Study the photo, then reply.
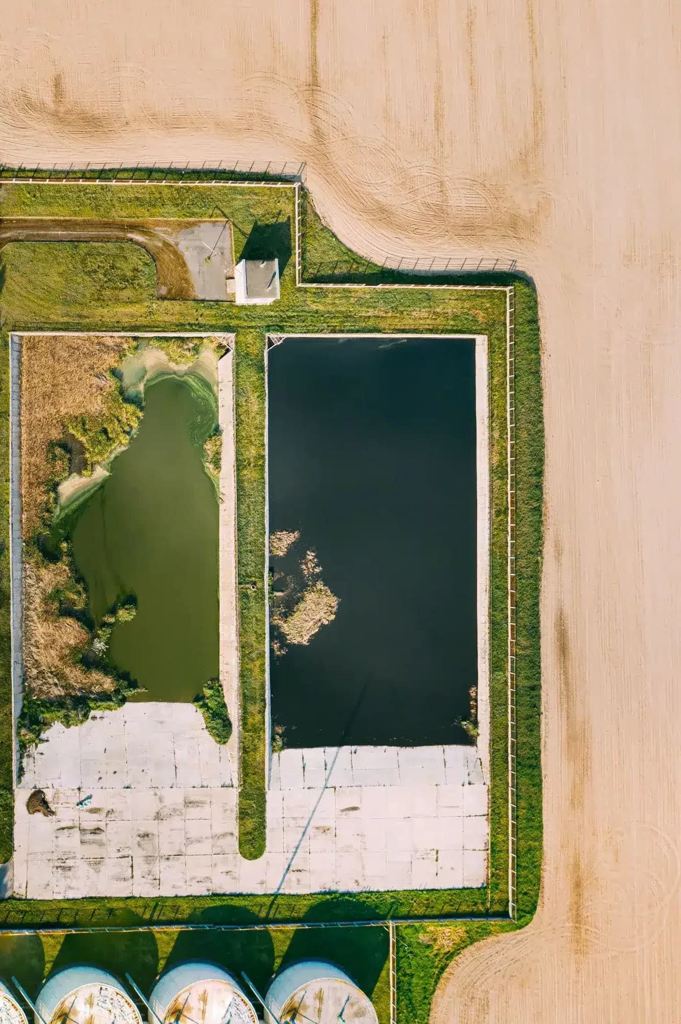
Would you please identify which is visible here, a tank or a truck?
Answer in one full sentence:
It is a tank that can be seen here.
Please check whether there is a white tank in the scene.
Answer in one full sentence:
Yes, there's a white tank down there.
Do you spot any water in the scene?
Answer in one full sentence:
Yes, water shows up in the scene.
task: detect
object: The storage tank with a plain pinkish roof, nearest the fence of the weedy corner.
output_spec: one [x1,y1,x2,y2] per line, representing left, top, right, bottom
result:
[266,960,376,1024]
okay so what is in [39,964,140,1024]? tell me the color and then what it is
white storage tank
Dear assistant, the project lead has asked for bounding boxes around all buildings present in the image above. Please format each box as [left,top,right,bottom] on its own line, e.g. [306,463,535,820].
[235,258,280,305]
